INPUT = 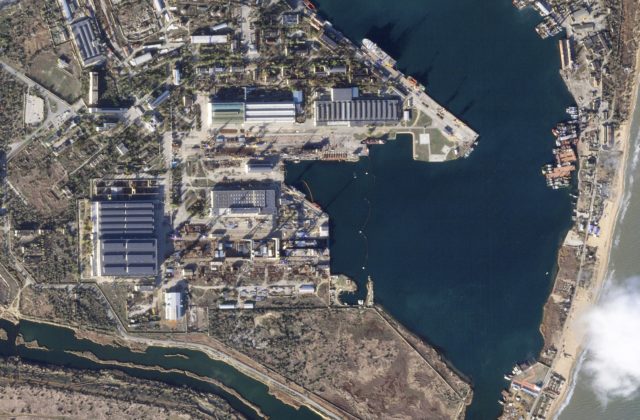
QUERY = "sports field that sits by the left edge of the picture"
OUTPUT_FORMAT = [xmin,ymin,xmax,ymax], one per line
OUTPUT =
[29,51,81,99]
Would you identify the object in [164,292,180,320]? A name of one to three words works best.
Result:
building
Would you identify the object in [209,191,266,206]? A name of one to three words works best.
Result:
building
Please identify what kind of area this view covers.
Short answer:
port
